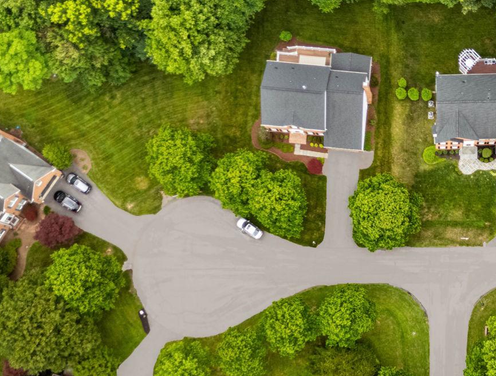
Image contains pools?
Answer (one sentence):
No, there's no pool here.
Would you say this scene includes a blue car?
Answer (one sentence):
No, no blue car is visible in the scene.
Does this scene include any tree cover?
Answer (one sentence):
Yes, some tree cover is visible.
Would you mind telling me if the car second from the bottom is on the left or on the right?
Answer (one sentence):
It is on the left.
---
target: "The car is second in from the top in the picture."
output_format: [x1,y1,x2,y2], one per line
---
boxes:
[52,190,80,212]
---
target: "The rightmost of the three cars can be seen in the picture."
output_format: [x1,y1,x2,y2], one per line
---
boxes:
[235,218,261,240]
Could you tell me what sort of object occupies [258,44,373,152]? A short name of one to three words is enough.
house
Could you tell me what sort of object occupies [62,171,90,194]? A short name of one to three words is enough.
car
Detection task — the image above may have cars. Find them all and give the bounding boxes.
[235,218,261,240]
[62,171,90,194]
[52,190,80,212]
